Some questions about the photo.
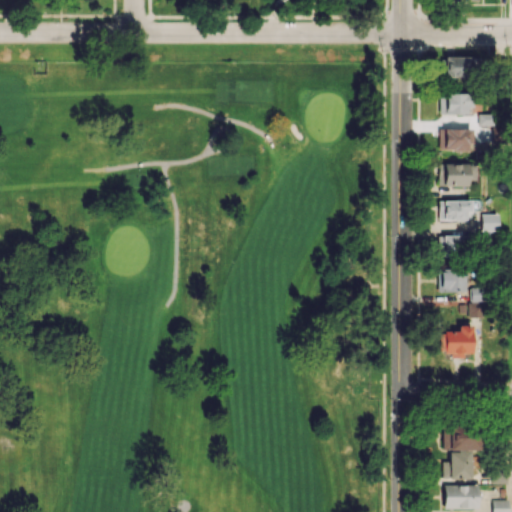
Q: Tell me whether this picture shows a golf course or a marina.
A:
golf course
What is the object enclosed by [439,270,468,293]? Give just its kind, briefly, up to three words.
house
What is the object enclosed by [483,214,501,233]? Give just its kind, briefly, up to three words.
building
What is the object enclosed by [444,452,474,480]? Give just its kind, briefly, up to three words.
house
